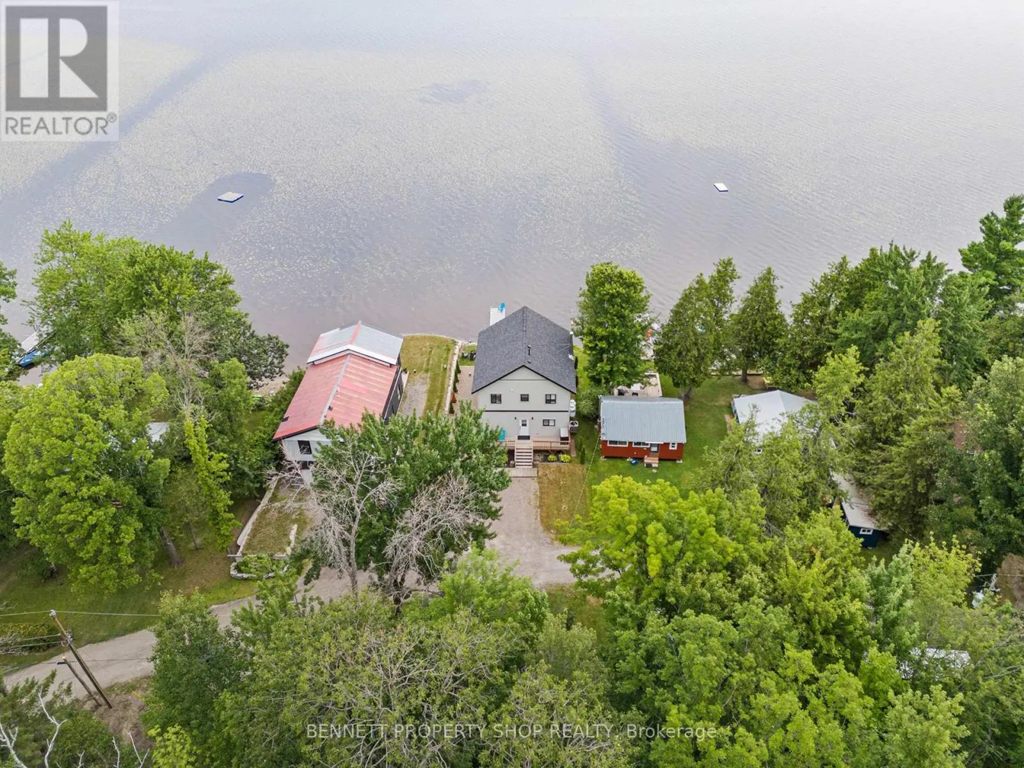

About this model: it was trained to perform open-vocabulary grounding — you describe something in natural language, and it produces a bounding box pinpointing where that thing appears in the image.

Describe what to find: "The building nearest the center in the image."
[471,306,578,472]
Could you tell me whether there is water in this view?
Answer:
Yes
